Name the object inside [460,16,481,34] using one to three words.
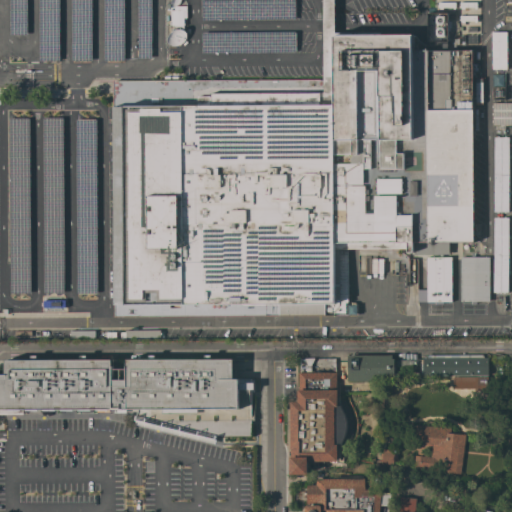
shed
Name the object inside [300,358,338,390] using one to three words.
house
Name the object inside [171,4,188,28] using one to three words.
tent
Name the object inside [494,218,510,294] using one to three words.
building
